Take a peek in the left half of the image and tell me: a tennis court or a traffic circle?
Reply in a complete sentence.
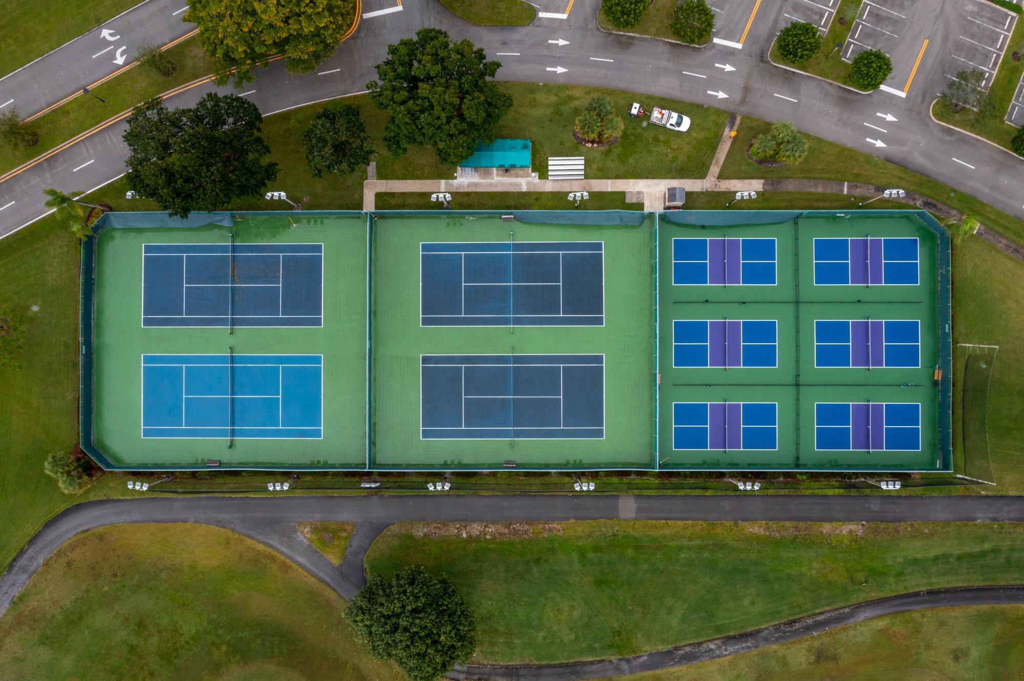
You can see a tennis court in the left half of the image.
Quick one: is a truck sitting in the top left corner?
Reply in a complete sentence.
No, no truck can be made out in the top left corner.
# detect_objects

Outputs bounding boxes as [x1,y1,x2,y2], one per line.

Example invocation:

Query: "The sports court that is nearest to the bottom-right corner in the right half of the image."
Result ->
[815,403,921,450]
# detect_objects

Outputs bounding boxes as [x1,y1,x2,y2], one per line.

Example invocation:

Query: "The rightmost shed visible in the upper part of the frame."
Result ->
[663,186,686,208]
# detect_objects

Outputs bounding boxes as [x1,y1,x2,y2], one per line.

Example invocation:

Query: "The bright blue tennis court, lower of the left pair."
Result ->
[142,354,323,438]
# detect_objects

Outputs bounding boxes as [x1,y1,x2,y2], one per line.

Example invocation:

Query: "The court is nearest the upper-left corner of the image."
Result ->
[142,244,323,327]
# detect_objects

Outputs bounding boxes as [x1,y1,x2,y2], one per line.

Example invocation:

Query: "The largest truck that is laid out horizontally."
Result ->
[650,103,693,129]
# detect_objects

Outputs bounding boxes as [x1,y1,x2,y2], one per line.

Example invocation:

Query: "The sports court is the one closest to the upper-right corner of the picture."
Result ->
[814,238,919,285]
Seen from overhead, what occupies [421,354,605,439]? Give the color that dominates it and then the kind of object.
blue tennis court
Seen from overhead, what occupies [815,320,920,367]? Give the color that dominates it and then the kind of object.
blue sports court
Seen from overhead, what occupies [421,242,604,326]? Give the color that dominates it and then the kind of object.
blue tennis court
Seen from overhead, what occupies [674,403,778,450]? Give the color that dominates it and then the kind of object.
blue sports court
